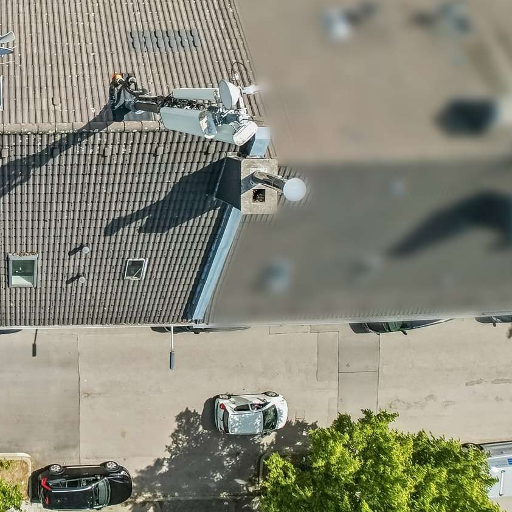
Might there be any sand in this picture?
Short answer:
No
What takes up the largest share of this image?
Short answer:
buildings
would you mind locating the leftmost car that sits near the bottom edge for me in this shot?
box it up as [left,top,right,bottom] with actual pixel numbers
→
[38,468,131,512]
